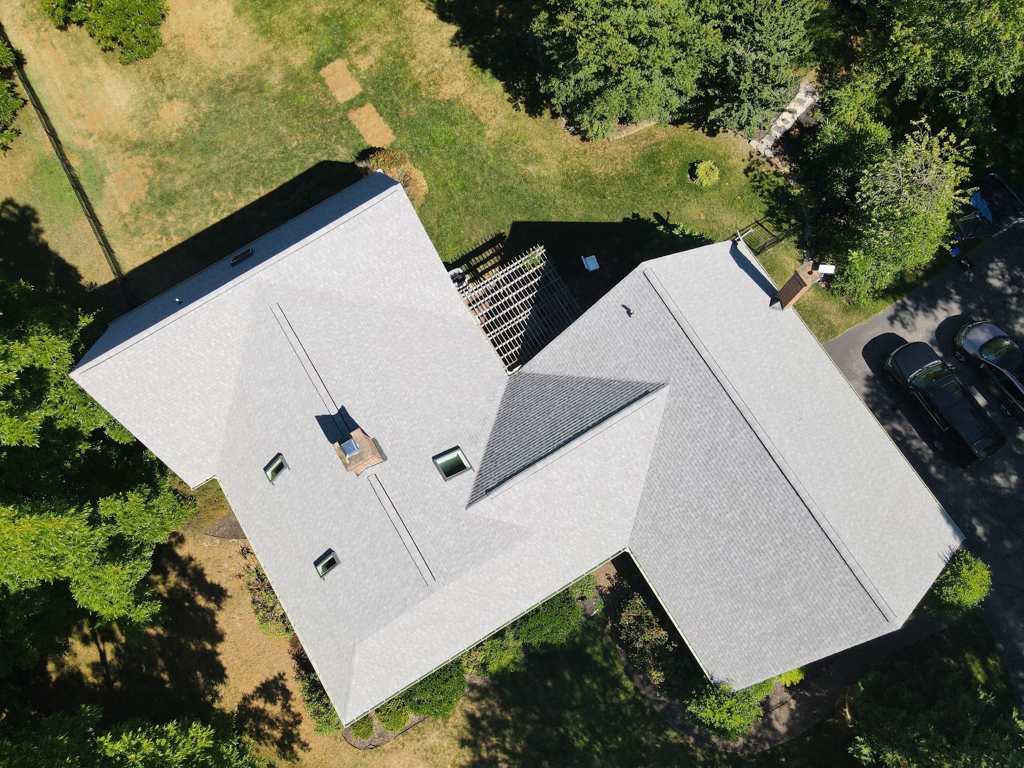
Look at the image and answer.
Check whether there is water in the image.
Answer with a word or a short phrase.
No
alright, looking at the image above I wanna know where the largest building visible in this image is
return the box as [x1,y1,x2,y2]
[69,167,968,732]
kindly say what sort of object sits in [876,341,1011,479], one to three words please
car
